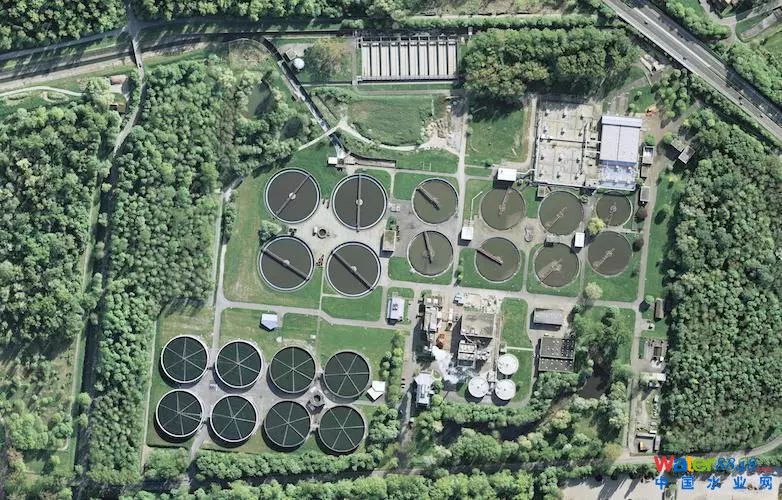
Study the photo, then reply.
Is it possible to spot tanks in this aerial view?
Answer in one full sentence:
Yes, this view includes a tank.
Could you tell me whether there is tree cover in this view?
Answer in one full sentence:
Yes, there's tree cover in this view.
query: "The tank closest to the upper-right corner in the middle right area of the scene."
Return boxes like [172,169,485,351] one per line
[595,190,633,227]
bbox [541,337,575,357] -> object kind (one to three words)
building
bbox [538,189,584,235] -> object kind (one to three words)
storage tank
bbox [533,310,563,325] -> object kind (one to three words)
shed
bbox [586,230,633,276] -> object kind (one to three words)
storage tank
